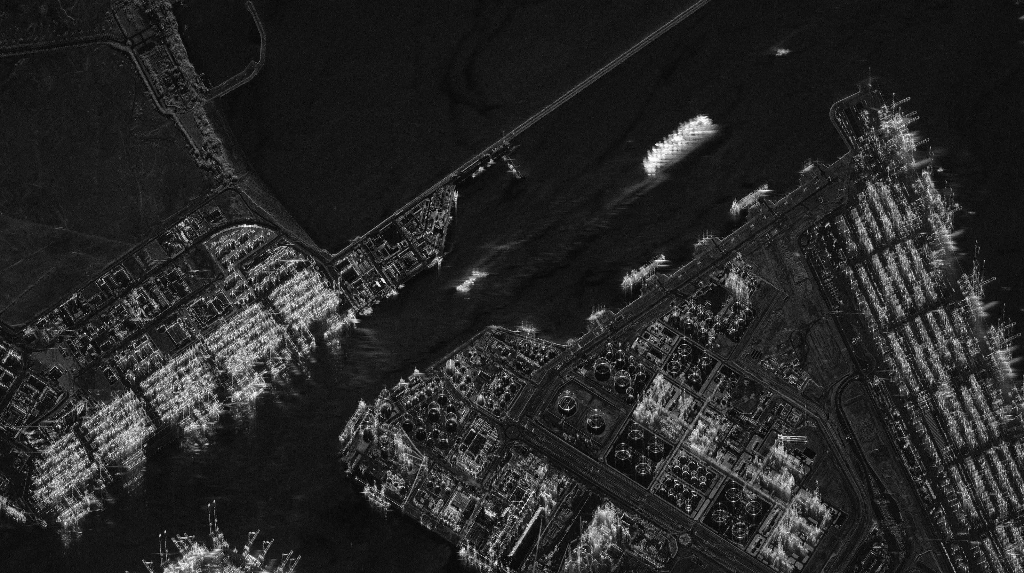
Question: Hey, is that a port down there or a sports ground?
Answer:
port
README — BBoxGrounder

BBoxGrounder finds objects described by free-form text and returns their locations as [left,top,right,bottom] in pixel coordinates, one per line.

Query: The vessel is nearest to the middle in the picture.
[459,273,486,292]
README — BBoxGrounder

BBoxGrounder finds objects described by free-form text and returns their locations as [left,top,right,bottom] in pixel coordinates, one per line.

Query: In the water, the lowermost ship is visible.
[462,549,494,573]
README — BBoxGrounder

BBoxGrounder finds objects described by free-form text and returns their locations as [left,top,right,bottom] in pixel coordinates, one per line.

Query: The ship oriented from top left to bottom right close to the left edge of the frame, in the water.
[0,502,26,524]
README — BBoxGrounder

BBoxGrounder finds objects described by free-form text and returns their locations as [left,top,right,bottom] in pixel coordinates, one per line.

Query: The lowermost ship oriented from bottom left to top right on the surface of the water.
[54,500,102,534]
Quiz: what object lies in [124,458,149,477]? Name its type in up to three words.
ship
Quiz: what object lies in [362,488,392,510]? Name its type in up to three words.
ship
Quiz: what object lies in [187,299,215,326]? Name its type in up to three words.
building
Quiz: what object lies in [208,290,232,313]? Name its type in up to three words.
building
